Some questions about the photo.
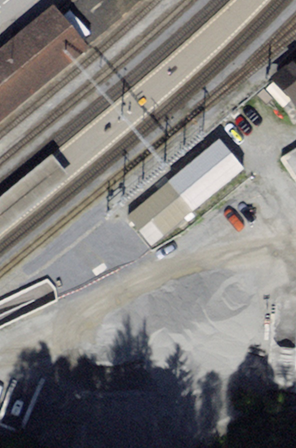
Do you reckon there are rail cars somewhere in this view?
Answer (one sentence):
No, I can see no rail car in this picture.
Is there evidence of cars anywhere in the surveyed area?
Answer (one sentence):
Yes, looking at the shot, I can spot a car.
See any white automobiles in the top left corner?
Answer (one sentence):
No, I can find no white automobile in the top left corner.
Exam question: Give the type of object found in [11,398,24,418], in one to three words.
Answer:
vehicle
